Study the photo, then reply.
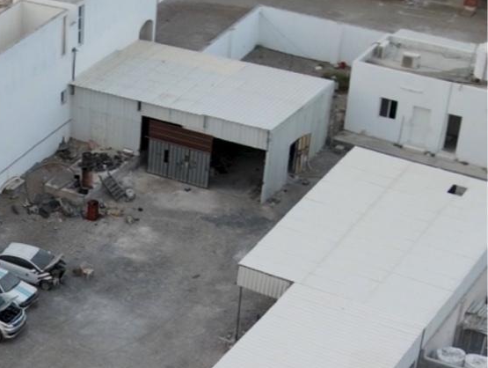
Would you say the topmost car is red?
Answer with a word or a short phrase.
No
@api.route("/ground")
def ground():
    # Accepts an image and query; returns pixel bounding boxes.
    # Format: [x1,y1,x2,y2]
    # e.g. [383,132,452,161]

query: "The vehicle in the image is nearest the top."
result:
[0,243,68,288]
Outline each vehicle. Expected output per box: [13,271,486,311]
[0,297,29,341]
[0,243,68,288]
[0,269,40,310]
